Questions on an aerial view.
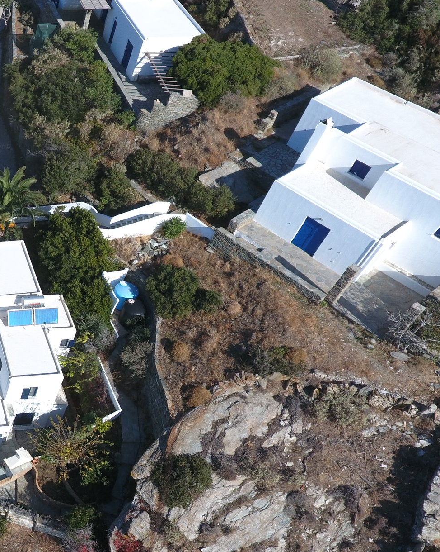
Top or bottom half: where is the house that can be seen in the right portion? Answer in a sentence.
The house that can be seen in the right portion sits in the top half of the picture.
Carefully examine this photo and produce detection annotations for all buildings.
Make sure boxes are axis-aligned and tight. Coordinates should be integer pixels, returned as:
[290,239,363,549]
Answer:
[256,77,440,285]
[0,241,78,445]
[53,0,205,81]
